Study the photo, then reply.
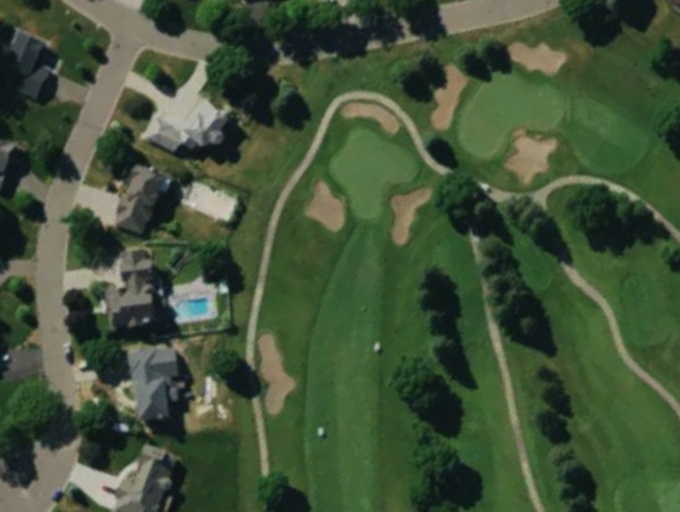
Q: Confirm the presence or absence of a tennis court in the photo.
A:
No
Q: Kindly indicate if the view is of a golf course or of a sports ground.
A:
golf course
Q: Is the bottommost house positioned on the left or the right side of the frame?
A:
left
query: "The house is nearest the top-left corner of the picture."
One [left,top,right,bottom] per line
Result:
[10,27,59,102]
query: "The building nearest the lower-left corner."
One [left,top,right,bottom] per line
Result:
[111,446,172,512]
